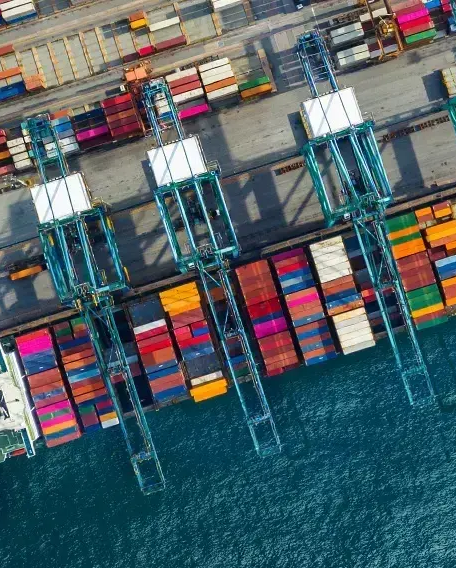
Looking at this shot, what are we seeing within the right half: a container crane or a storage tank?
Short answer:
container crane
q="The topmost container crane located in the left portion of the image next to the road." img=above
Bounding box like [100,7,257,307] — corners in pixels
[122,59,174,143]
